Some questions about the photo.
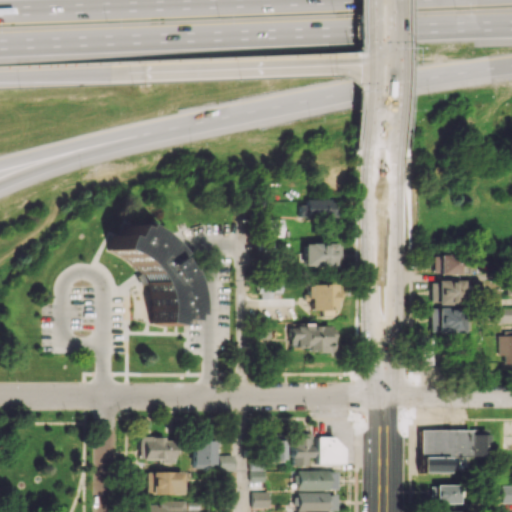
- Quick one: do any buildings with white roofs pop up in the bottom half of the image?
Yes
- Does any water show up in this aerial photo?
No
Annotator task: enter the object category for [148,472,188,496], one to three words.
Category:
house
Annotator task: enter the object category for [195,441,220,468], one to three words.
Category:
house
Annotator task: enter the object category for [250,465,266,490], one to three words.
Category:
building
